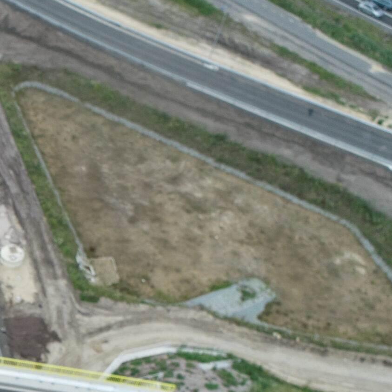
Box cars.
[371,0,392,10]
[356,0,385,17]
